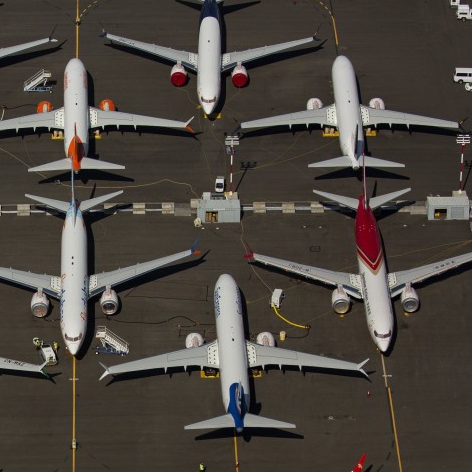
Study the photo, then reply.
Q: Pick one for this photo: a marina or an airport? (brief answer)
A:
airport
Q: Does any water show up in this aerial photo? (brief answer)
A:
No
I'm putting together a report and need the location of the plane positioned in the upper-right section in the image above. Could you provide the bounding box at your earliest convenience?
[232,56,469,170]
